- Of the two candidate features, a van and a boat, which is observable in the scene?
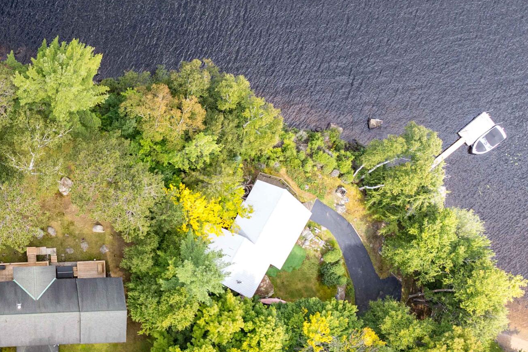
boat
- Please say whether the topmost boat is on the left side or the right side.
right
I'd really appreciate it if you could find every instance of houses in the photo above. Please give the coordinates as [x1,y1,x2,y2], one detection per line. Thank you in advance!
[200,172,312,298]
[0,247,126,352]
